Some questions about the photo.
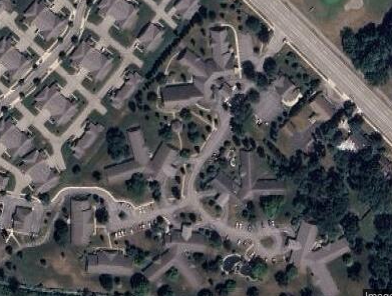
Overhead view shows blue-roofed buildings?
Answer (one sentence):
No, I can see no blue-roofed building in this picture.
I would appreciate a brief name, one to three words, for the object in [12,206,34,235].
building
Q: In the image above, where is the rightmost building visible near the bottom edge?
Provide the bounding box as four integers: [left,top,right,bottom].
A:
[285,215,353,296]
